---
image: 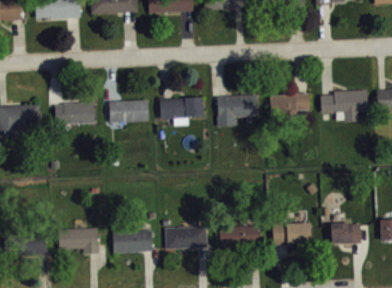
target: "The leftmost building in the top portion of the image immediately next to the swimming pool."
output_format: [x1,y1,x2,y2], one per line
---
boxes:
[160,96,205,126]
